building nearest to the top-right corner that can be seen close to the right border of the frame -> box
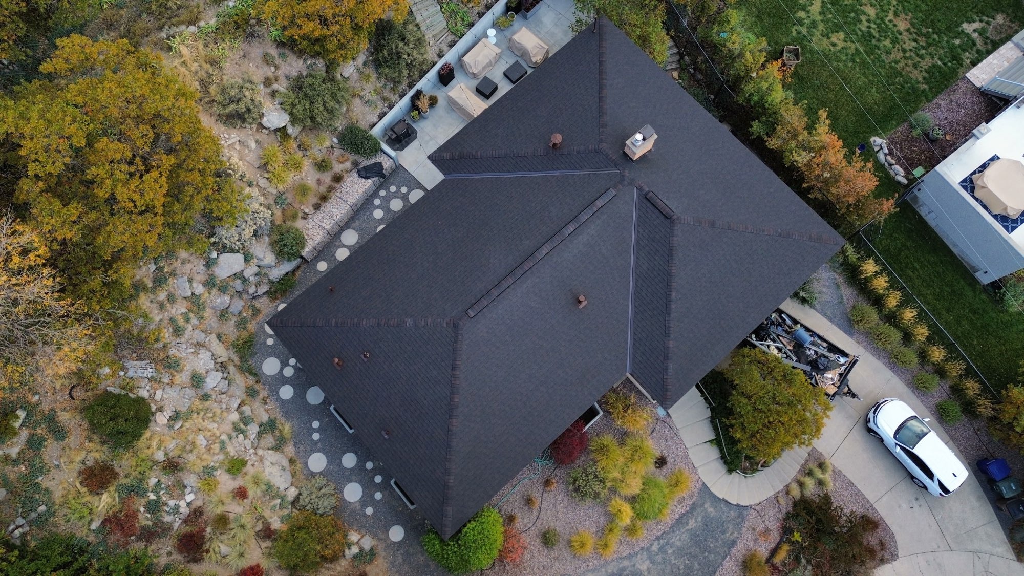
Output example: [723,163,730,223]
[899,97,1024,282]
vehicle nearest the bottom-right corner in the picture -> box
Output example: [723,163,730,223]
[859,400,968,498]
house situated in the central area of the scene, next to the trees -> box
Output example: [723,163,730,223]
[266,16,845,542]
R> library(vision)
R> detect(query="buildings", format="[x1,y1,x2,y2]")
[266,16,845,542]
[899,97,1024,282]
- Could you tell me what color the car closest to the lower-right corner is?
white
